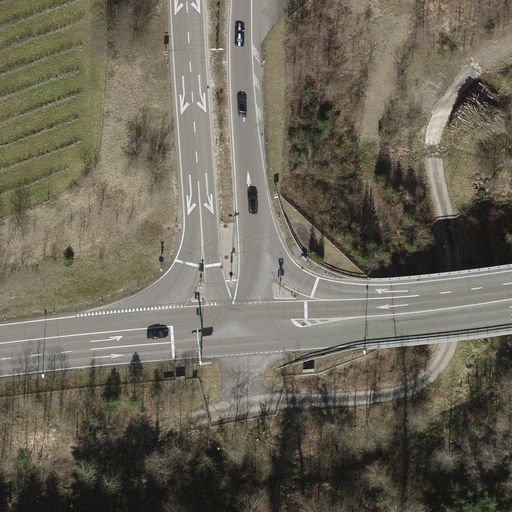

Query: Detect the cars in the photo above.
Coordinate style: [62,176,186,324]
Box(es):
[248,191,258,214]
[236,96,248,118]
[234,25,245,47]
[147,327,168,338]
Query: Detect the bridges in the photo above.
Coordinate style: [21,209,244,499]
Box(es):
[372,264,512,349]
